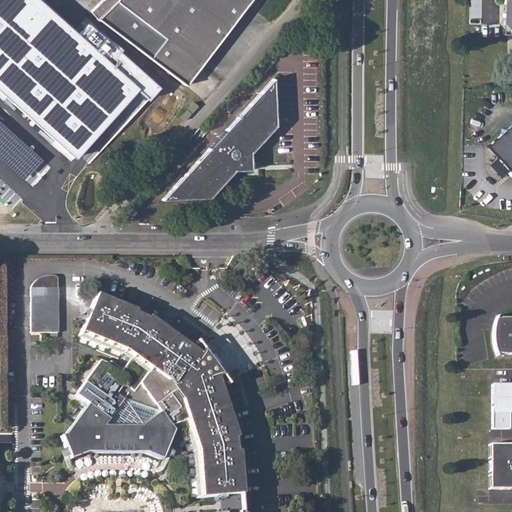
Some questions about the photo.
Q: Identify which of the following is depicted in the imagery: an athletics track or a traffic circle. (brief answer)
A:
traffic circle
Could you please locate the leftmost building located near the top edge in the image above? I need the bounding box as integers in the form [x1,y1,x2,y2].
[0,0,160,164]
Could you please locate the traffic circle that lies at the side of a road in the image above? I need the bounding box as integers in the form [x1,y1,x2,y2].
[322,196,423,296]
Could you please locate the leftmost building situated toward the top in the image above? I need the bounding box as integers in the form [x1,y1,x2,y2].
[0,122,50,186]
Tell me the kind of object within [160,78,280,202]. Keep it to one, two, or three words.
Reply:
building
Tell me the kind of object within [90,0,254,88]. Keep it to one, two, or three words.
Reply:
building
